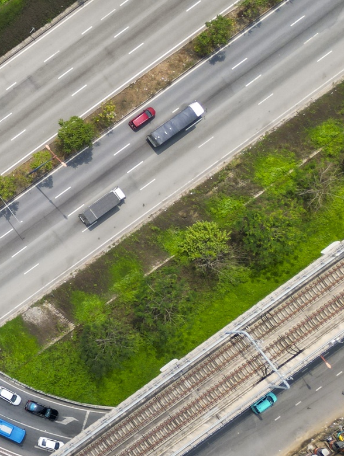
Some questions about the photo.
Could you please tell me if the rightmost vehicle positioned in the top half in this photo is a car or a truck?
truck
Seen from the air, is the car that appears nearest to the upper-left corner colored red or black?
red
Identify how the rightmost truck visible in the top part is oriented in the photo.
at an angle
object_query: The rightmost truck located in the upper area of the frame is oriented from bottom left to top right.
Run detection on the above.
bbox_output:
[144,98,209,148]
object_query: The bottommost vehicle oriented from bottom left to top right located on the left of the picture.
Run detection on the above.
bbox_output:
[77,184,130,226]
